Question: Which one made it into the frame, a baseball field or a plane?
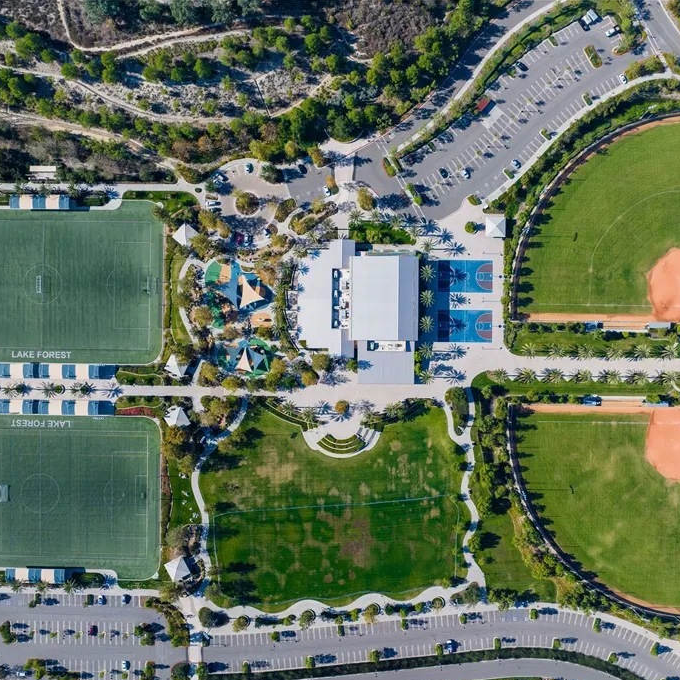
baseball field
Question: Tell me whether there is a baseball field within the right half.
Yes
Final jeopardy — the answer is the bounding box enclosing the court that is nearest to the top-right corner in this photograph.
[439,260,493,292]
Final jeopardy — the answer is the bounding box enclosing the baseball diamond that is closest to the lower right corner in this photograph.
[508,404,680,617]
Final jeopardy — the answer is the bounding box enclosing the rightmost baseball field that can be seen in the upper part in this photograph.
[509,115,680,323]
